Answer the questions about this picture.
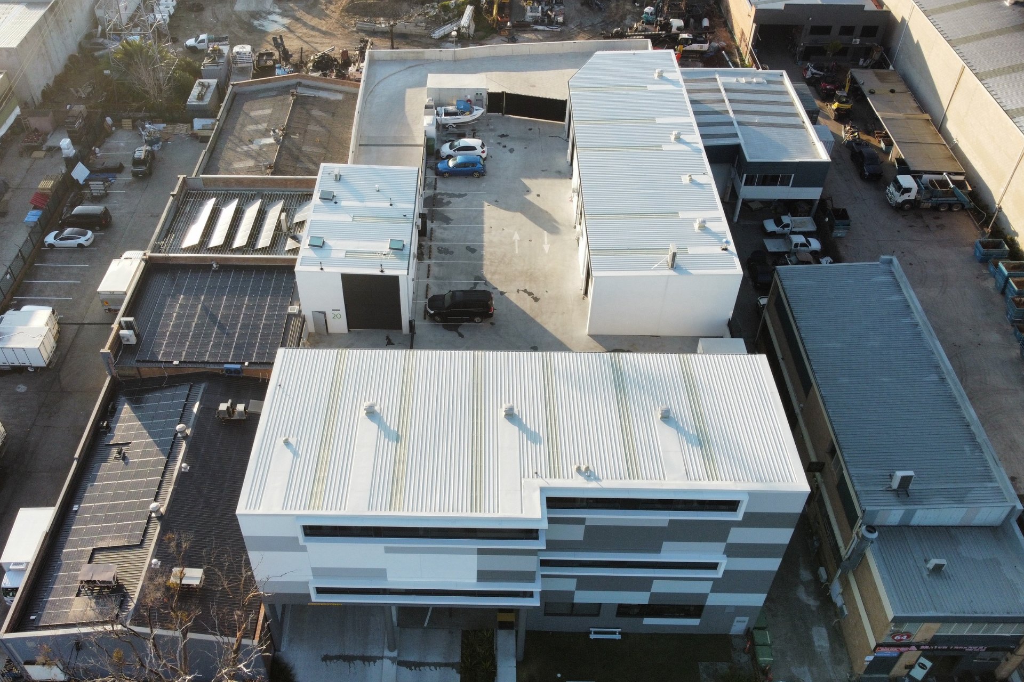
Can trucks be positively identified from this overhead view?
Yes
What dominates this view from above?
buildings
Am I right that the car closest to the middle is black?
Yes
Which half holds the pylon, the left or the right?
left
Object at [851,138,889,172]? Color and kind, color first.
black truck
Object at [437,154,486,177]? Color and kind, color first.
blue car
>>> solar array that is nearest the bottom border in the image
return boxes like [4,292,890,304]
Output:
[21,383,193,621]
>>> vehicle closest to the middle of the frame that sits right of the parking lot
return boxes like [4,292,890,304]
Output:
[427,286,495,321]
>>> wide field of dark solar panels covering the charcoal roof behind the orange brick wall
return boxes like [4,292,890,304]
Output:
[131,265,298,366]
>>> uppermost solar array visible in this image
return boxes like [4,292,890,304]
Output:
[180,199,310,248]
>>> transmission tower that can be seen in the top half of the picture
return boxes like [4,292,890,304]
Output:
[92,0,185,88]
